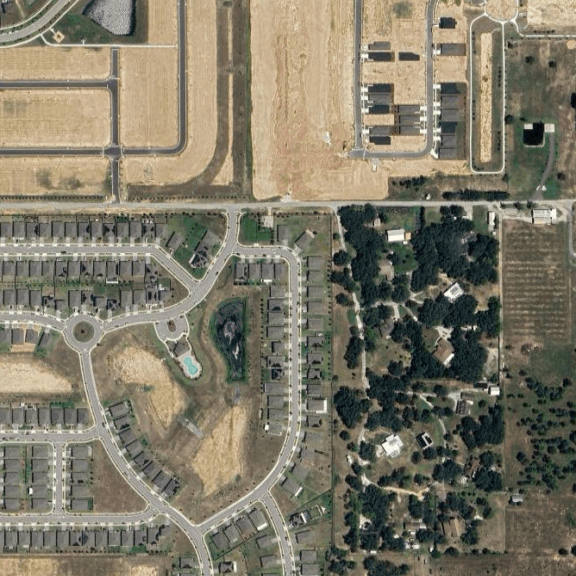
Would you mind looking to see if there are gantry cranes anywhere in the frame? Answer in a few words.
No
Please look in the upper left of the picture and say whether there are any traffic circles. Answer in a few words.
No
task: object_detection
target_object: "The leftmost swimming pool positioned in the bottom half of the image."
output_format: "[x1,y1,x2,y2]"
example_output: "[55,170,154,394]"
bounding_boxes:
[178,352,201,378]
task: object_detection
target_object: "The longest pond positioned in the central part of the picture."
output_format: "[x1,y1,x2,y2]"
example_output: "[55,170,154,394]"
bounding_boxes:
[216,300,244,379]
